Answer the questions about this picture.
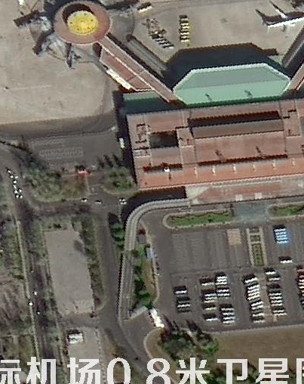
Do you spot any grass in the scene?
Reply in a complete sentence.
Yes, grass can be seen from above here.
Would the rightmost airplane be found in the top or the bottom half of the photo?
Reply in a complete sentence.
You can find the rightmost airplane in the top half.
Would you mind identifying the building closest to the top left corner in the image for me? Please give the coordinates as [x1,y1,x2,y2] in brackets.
[19,0,139,73]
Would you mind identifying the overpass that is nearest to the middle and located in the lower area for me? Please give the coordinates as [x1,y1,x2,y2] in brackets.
[118,196,195,323]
